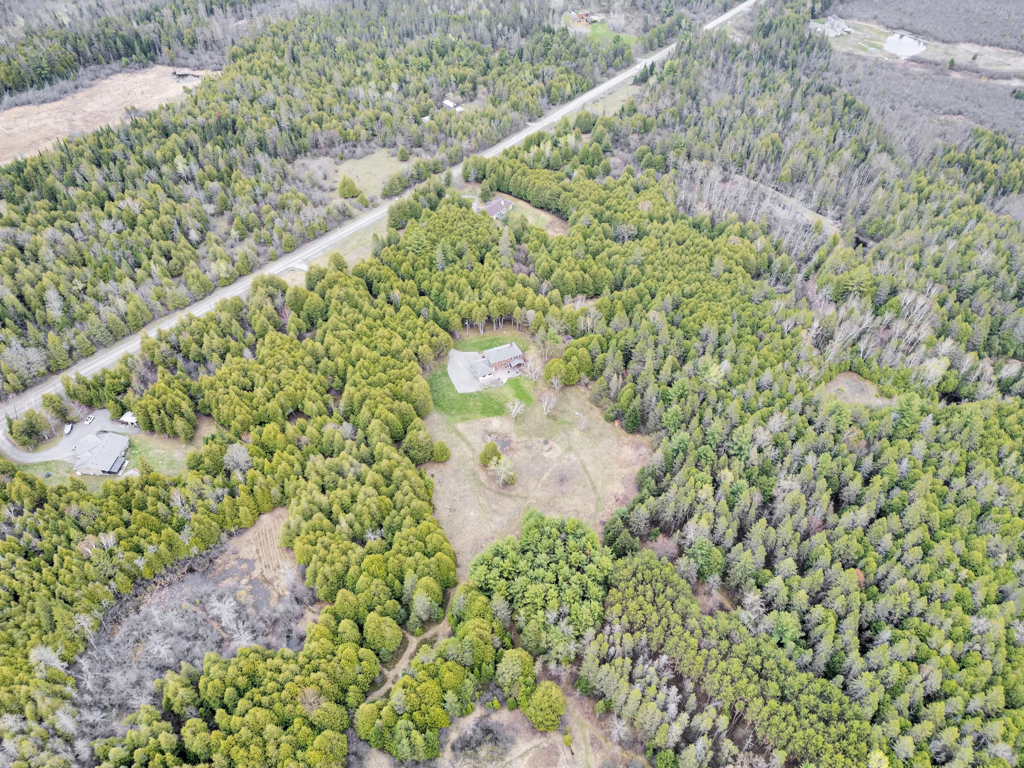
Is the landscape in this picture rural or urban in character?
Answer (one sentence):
The land in this view is best described as rural.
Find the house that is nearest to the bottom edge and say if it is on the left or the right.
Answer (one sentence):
It is on the left.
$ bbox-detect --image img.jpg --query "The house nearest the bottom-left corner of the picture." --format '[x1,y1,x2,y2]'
[69,434,130,476]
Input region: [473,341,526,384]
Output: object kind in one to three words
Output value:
house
